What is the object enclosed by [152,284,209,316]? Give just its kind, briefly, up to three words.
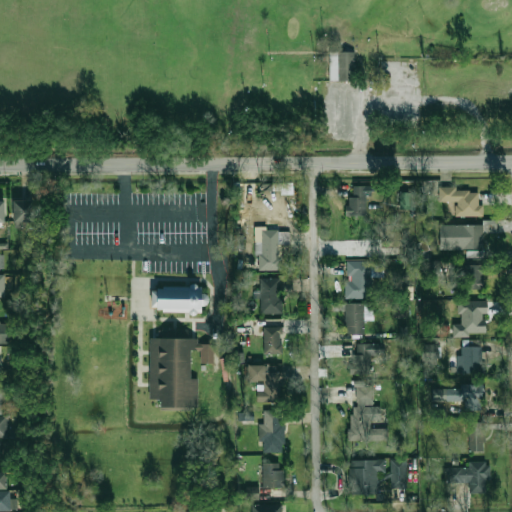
building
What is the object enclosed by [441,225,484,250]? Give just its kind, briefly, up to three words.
house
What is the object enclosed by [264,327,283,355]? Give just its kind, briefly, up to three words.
house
